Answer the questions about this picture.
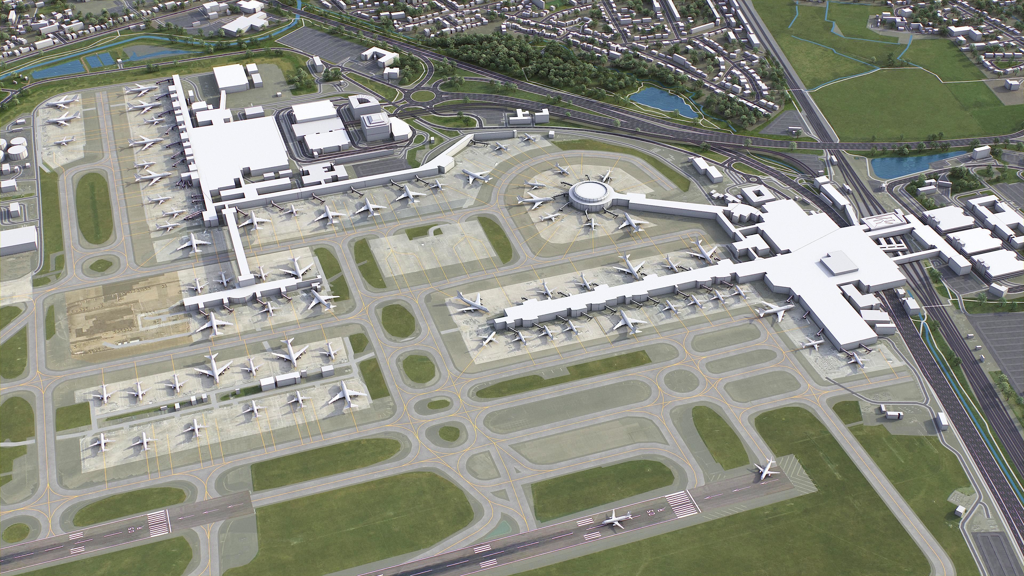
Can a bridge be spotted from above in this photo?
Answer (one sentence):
Yes, the picture does show a bridge.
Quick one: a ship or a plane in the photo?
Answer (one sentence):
I can see a plane in this picture.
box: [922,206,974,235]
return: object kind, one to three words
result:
building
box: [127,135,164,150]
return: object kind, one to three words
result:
airplane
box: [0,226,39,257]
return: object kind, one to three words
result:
hangar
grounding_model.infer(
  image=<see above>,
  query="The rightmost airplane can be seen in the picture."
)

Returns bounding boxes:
[848,352,871,368]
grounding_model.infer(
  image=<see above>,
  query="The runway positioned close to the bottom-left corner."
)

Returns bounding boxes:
[0,490,254,573]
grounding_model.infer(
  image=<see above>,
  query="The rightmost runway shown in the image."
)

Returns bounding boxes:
[350,466,795,576]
